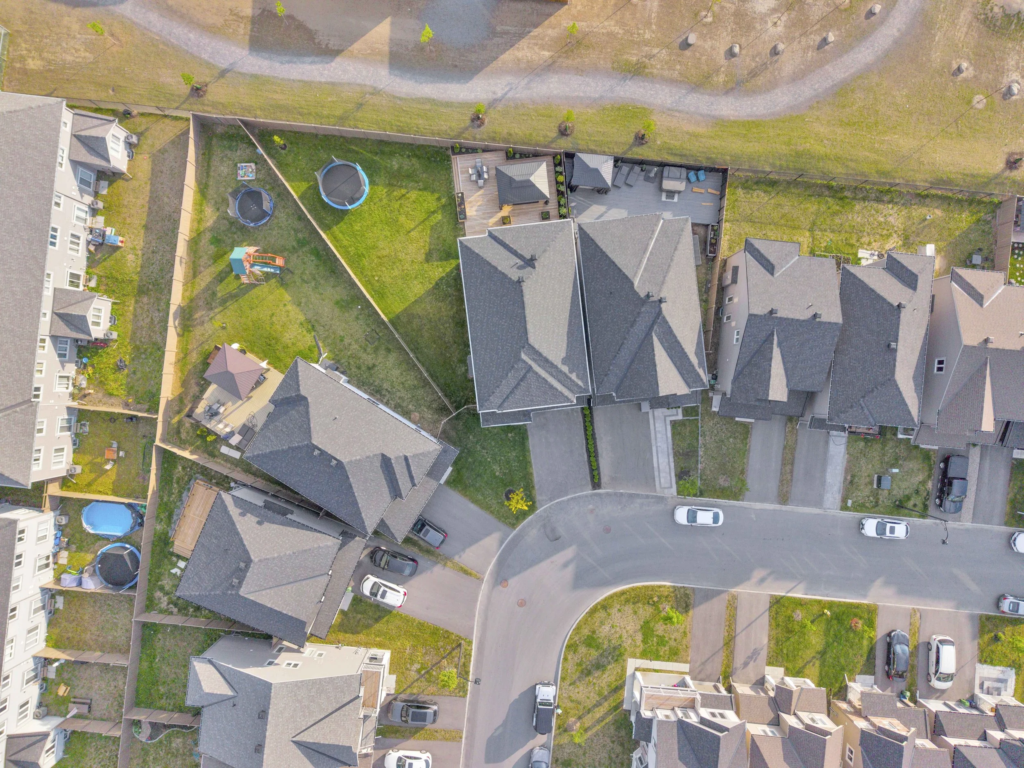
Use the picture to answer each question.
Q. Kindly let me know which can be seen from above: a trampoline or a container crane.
trampoline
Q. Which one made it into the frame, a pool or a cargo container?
pool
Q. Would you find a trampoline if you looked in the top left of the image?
Yes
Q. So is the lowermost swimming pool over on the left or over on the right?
left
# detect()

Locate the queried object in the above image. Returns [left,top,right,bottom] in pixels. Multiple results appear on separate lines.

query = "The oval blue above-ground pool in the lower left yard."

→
[80,500,144,536]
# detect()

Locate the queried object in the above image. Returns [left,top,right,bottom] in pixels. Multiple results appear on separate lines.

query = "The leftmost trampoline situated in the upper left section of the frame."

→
[229,183,277,227]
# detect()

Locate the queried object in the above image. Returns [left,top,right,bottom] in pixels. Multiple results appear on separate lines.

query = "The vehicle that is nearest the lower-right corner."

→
[927,635,957,688]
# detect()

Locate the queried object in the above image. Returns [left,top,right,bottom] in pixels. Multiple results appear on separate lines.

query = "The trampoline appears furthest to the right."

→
[314,155,371,212]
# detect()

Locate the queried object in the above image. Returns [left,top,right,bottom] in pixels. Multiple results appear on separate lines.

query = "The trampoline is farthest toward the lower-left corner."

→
[86,540,141,596]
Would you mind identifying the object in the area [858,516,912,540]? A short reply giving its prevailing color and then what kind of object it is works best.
white car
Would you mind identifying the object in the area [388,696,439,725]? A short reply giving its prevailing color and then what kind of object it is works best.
gray car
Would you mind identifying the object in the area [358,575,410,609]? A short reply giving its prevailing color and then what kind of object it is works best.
white car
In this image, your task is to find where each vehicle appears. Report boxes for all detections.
[409,514,450,552]
[532,682,557,737]
[885,629,913,682]
[927,635,957,688]
[673,505,724,528]
[995,592,1024,615]
[368,549,421,581]
[1007,531,1024,552]
[384,749,432,768]
[388,696,439,725]
[936,454,970,515]
[858,516,912,540]
[528,745,550,768]
[358,575,410,609]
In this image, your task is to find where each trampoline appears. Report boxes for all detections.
[86,540,141,596]
[314,155,371,212]
[229,183,277,227]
